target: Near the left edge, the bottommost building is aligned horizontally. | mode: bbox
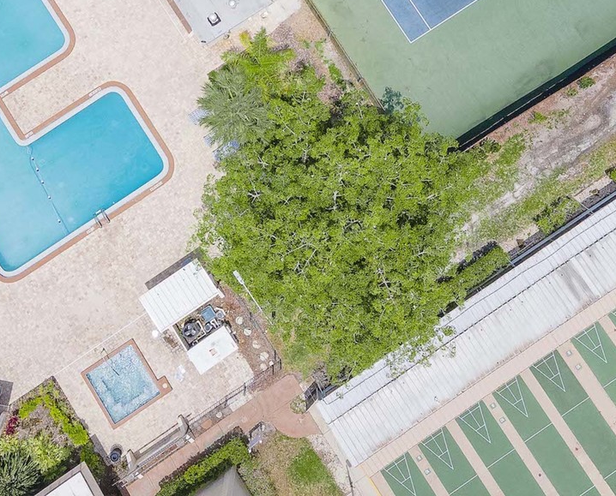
[28,451,124,496]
